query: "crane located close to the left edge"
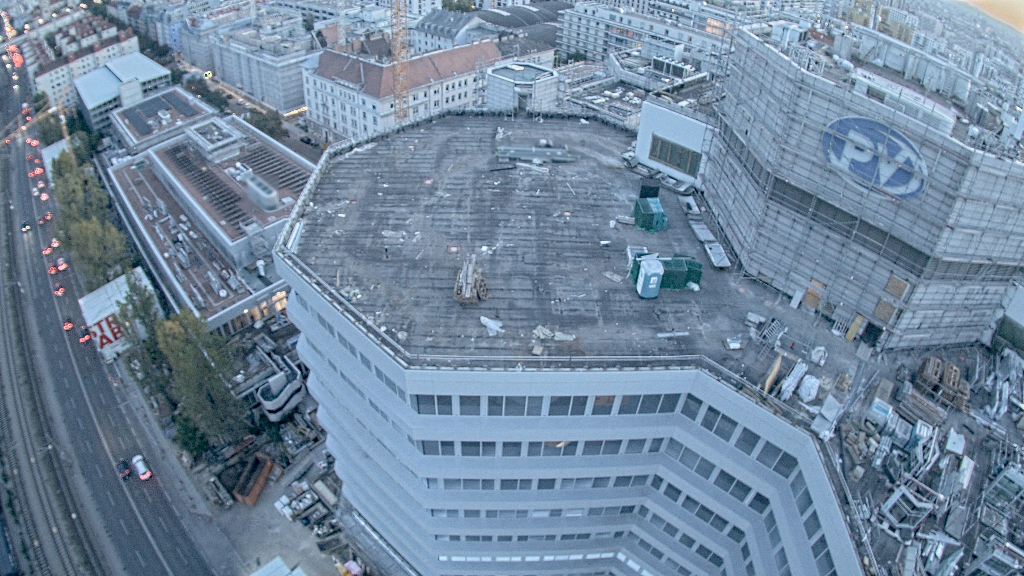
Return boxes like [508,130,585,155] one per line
[0,85,78,147]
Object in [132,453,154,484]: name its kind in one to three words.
car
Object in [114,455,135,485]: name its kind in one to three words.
car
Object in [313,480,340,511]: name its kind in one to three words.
shipping container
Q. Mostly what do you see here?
buildings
